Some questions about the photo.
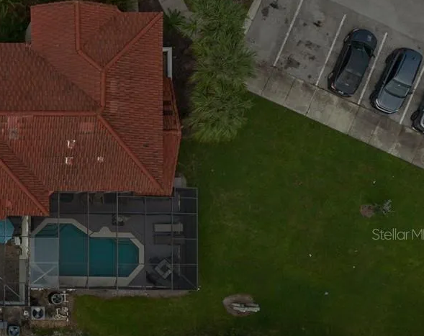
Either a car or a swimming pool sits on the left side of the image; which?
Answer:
swimming pool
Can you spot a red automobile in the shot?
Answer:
No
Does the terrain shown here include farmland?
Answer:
No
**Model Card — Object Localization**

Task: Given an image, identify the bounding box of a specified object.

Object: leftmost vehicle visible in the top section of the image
[324,25,378,100]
